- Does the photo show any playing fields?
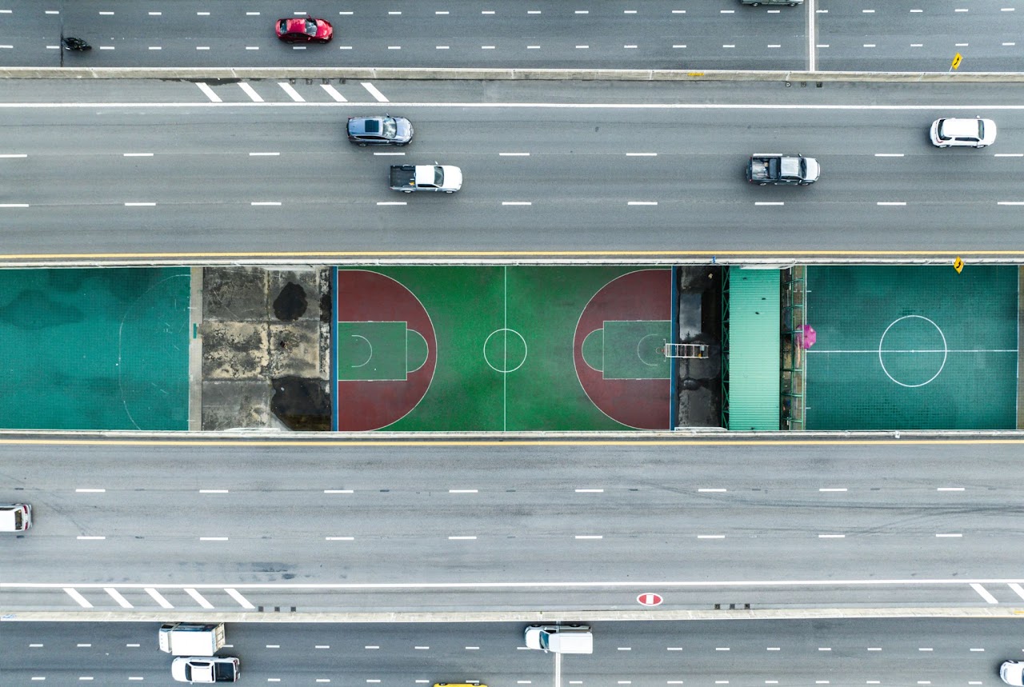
Yes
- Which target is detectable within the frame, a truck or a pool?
truck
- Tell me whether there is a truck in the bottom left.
Yes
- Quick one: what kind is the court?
basketball court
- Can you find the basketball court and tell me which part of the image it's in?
center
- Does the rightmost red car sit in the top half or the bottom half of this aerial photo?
top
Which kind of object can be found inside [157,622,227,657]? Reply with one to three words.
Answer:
truck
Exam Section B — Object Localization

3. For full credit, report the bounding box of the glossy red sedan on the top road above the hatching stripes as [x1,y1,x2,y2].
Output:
[277,16,334,46]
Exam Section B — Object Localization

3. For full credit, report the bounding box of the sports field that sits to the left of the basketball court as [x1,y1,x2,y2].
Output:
[0,268,189,430]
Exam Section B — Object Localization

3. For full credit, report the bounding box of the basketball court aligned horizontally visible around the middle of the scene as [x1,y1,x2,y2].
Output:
[337,266,672,430]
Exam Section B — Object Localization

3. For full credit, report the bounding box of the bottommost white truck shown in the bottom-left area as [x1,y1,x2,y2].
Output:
[173,654,241,686]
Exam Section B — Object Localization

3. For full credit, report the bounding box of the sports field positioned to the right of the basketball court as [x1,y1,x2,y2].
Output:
[805,266,1018,429]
